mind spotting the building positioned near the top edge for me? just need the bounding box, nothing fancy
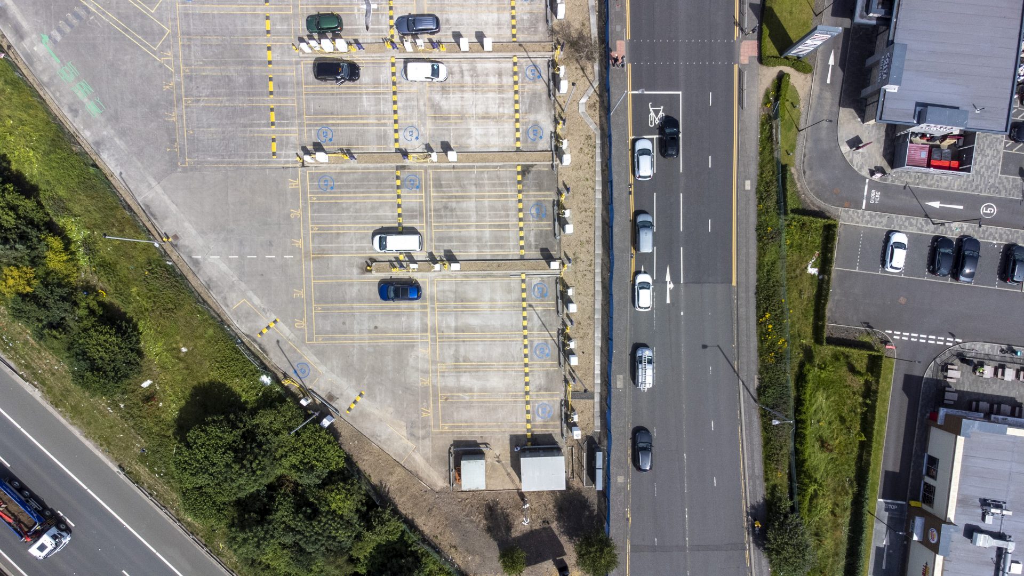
[852,0,1024,136]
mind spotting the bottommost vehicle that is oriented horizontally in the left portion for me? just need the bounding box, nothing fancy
[379,281,422,302]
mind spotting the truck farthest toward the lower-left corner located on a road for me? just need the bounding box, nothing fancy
[0,475,73,558]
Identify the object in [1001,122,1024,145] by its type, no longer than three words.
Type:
car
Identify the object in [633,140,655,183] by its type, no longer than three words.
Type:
car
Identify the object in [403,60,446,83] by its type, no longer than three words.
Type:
vehicle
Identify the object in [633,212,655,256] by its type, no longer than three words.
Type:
vehicle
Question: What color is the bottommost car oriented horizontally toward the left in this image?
blue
